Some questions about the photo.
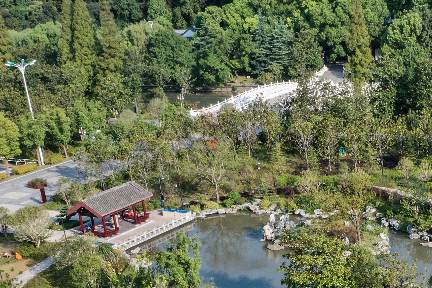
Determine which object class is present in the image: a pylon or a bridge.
bridge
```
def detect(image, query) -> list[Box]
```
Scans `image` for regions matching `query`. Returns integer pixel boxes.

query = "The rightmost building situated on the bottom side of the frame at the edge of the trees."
[64,183,155,238]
